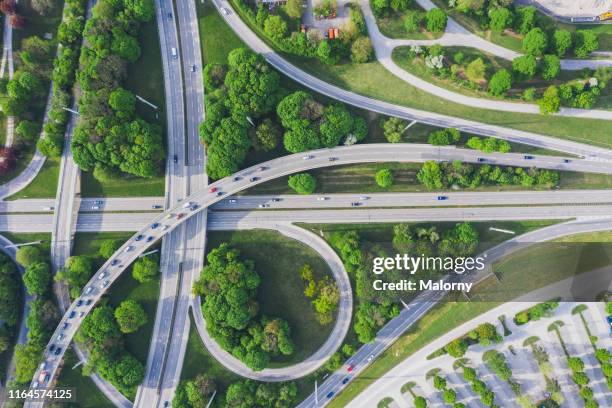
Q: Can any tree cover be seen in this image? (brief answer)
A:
Yes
